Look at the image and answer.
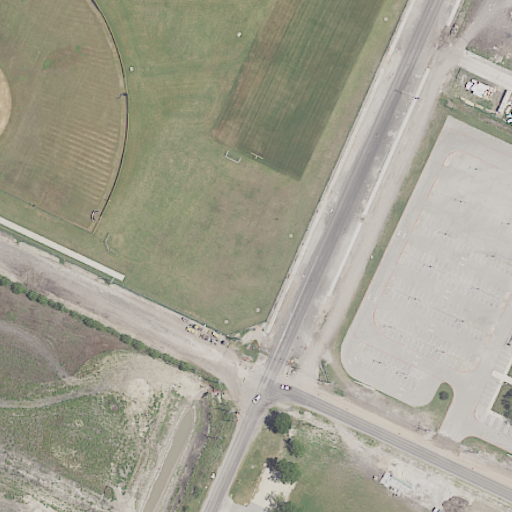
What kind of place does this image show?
sports ground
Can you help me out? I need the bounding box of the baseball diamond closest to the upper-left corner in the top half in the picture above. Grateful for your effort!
[0,0,126,232]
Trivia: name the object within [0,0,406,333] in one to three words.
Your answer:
sports field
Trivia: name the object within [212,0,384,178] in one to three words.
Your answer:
sports field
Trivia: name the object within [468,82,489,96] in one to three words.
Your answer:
vehicle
